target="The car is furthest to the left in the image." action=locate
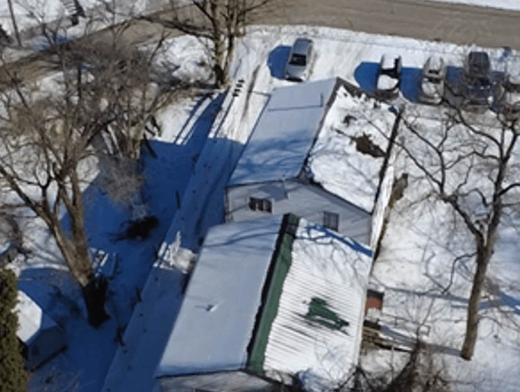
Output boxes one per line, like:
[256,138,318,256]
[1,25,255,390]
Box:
[283,41,315,76]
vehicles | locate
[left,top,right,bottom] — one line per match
[464,55,495,104]
[418,63,446,102]
[373,58,401,96]
[283,41,315,76]
[501,71,520,109]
